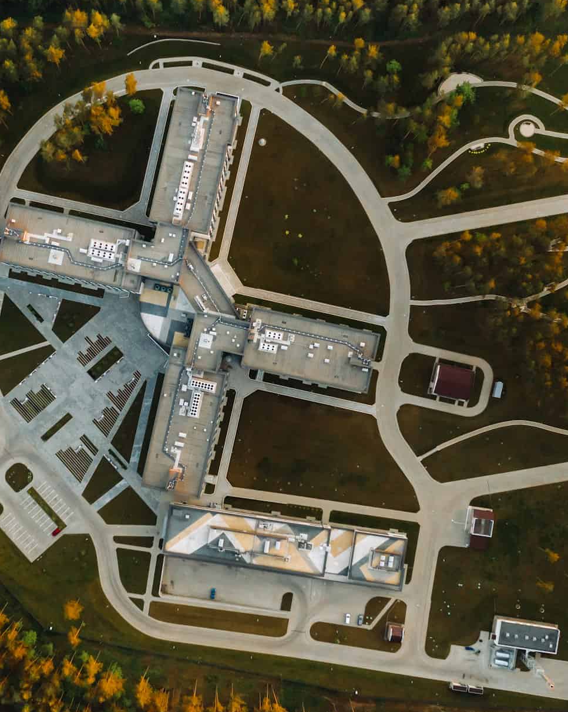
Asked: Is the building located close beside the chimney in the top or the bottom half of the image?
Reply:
bottom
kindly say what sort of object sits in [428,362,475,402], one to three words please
building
